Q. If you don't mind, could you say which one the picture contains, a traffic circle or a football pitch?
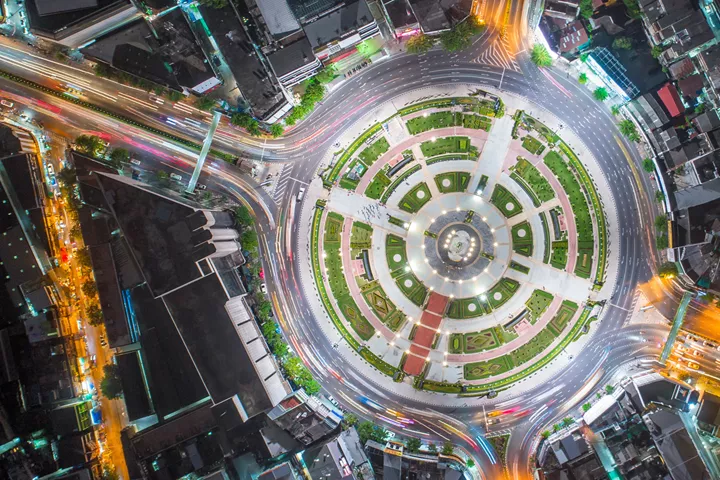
traffic circle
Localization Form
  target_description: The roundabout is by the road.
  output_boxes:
[297,84,621,407]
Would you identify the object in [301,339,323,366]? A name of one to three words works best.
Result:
bus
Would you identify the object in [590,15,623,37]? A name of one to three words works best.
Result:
building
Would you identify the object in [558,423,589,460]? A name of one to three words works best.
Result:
building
